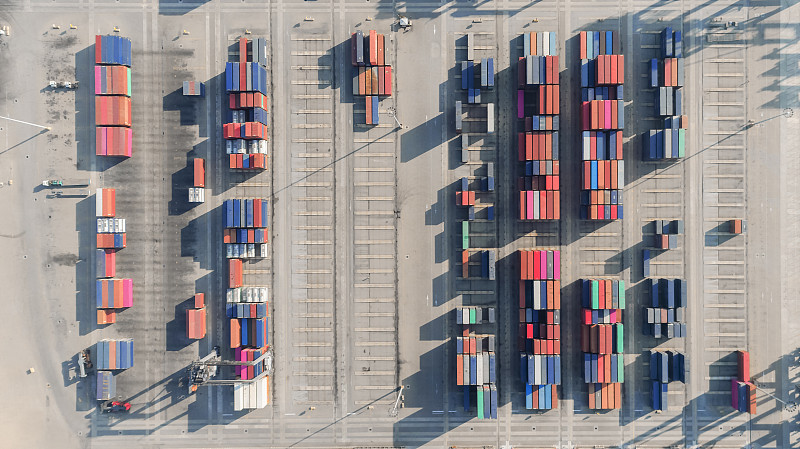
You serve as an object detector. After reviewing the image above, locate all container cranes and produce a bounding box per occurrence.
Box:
[187,345,274,393]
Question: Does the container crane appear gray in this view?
Yes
